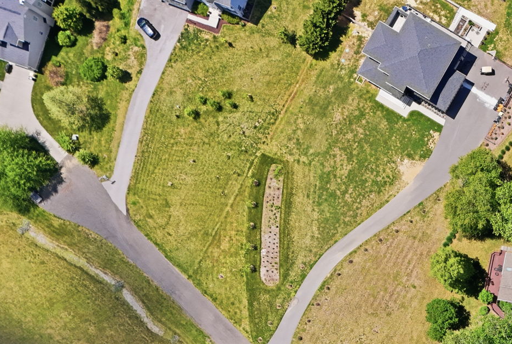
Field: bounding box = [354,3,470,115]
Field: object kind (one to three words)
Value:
house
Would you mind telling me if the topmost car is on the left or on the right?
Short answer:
left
